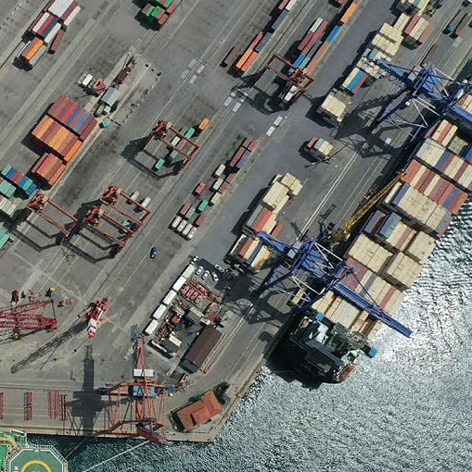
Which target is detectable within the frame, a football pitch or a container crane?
container crane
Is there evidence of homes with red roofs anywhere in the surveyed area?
Yes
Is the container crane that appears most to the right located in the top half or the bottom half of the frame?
top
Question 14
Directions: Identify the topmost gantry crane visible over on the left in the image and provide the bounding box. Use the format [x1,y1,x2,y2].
[137,115,203,178]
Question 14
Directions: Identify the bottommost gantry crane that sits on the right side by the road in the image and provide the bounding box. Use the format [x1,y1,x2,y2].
[240,224,410,347]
